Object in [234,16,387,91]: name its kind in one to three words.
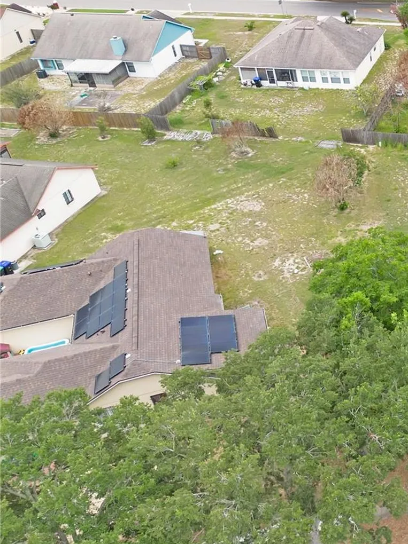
house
